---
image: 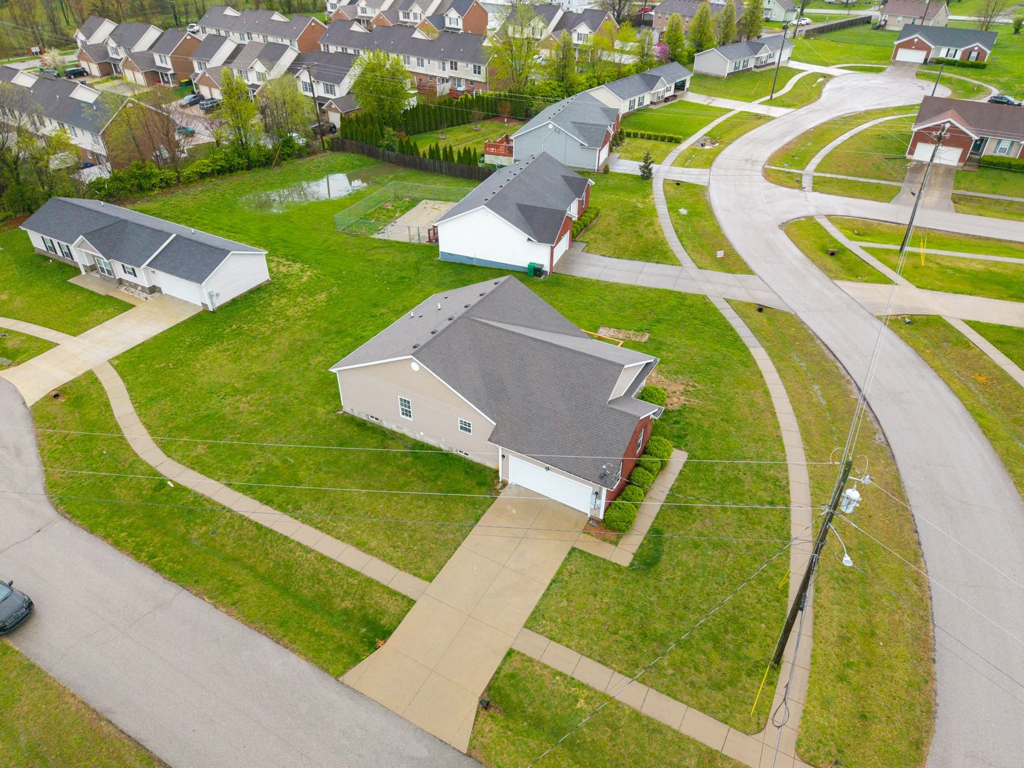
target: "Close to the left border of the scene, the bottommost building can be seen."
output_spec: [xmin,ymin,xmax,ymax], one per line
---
[20,198,274,311]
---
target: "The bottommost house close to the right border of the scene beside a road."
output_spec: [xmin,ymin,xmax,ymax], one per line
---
[879,95,1024,170]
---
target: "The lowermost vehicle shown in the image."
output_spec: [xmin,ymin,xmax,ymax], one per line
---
[0,587,34,639]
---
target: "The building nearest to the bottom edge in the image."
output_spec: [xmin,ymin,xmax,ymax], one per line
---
[327,276,669,521]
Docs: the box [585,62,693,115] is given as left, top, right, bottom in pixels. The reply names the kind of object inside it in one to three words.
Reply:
house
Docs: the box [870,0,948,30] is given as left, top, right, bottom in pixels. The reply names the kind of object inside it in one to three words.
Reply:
house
